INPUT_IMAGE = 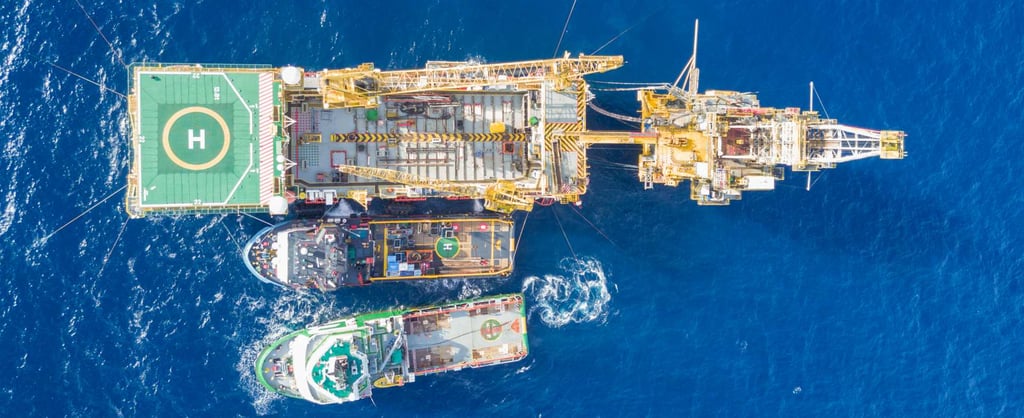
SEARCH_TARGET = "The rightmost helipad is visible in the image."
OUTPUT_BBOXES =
[480,318,503,340]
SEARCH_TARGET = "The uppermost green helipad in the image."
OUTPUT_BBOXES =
[435,235,459,259]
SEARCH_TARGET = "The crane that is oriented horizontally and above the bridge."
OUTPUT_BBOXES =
[321,56,628,108]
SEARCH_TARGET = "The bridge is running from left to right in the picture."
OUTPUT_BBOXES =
[561,130,656,149]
